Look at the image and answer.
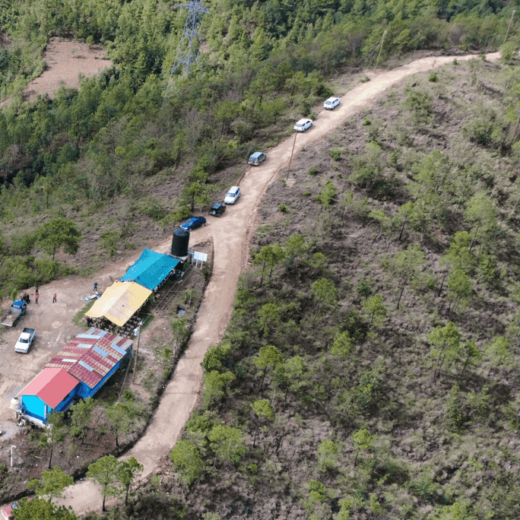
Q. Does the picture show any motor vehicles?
Yes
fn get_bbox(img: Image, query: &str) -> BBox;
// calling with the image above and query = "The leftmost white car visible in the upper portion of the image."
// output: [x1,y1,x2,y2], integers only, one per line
[224,184,243,201]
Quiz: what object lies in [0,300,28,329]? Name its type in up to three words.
truck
